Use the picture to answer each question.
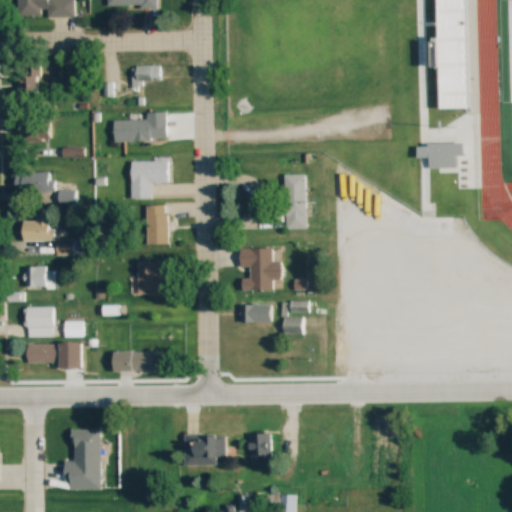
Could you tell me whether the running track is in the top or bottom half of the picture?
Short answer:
top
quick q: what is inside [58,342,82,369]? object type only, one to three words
building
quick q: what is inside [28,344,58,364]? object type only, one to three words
house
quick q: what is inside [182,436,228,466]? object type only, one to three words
house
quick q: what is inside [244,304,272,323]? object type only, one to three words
building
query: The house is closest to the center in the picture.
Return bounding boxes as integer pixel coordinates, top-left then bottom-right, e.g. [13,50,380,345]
[240,248,284,292]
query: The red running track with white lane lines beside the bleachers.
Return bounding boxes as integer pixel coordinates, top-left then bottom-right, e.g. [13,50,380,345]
[478,0,512,231]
